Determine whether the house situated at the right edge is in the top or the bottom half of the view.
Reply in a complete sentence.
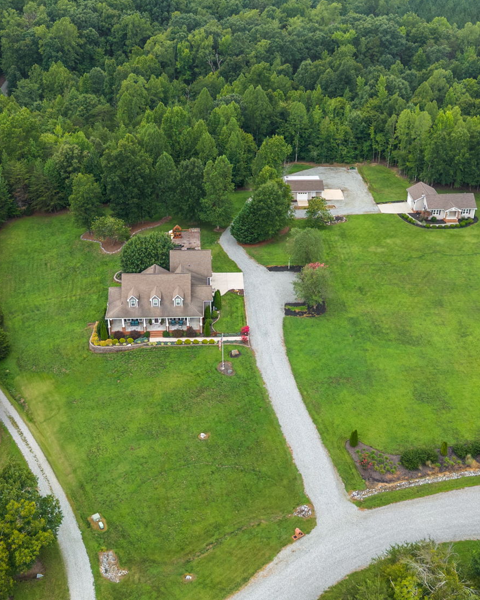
The house situated at the right edge sits in the top half of the picture.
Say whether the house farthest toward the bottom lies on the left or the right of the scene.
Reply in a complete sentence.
The house farthest toward the bottom appears in the left half of the scene.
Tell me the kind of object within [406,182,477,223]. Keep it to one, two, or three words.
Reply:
house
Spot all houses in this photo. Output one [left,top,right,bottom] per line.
[406,182,477,223]
[105,249,212,338]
